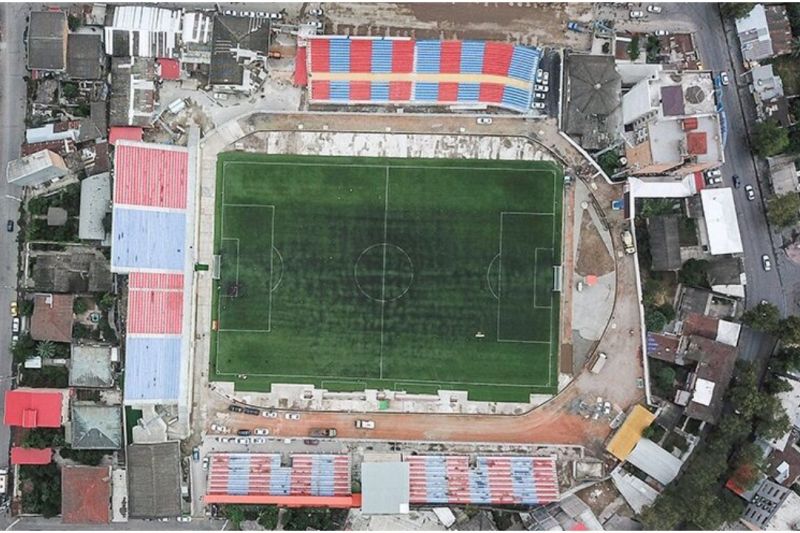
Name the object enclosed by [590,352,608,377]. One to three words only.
vehicle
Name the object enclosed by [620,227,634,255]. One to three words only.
vehicle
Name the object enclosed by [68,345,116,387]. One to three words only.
house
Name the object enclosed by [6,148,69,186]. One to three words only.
building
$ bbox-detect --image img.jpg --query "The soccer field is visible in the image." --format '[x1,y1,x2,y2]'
[209,152,562,402]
